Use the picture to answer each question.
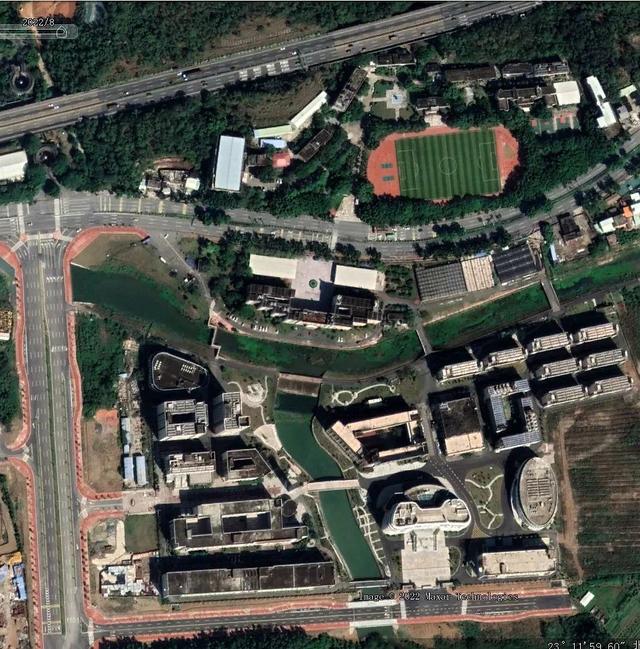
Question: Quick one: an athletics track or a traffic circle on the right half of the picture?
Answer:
athletics track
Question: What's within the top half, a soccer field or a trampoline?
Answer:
soccer field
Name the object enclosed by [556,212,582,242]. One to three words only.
house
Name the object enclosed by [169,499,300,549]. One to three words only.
building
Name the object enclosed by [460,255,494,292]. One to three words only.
shed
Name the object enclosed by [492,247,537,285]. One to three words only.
shed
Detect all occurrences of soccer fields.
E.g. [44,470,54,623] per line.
[395,131,500,195]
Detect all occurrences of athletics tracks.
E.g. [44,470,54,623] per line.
[367,125,519,202]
